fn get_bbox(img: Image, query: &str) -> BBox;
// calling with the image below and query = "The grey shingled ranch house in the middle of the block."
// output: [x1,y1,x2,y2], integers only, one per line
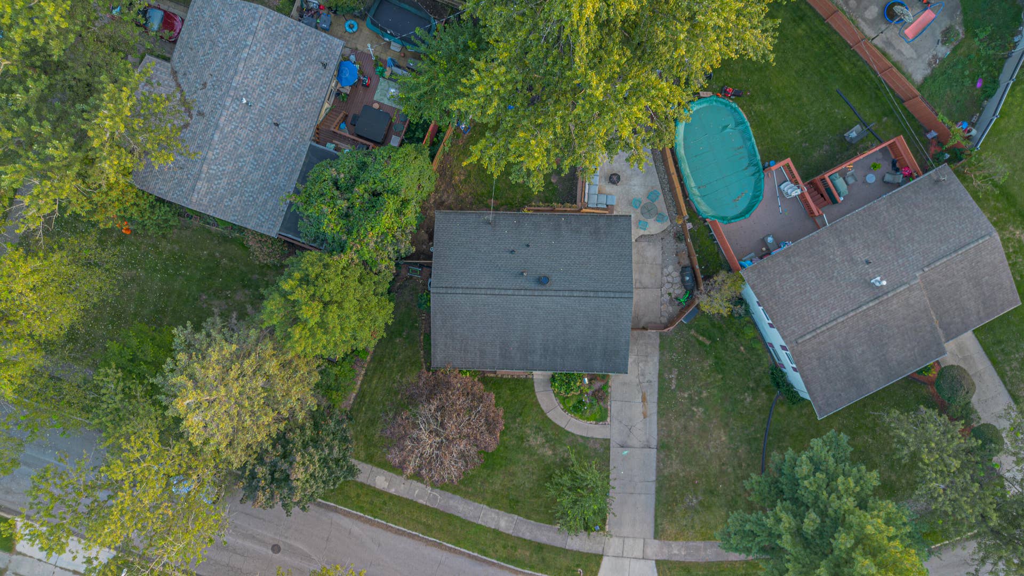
[430,210,634,376]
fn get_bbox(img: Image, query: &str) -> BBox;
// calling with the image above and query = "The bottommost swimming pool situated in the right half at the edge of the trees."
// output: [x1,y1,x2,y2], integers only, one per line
[672,94,763,226]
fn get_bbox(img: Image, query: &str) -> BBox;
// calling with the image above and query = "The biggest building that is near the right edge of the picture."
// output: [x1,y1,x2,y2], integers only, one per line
[729,162,1021,421]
